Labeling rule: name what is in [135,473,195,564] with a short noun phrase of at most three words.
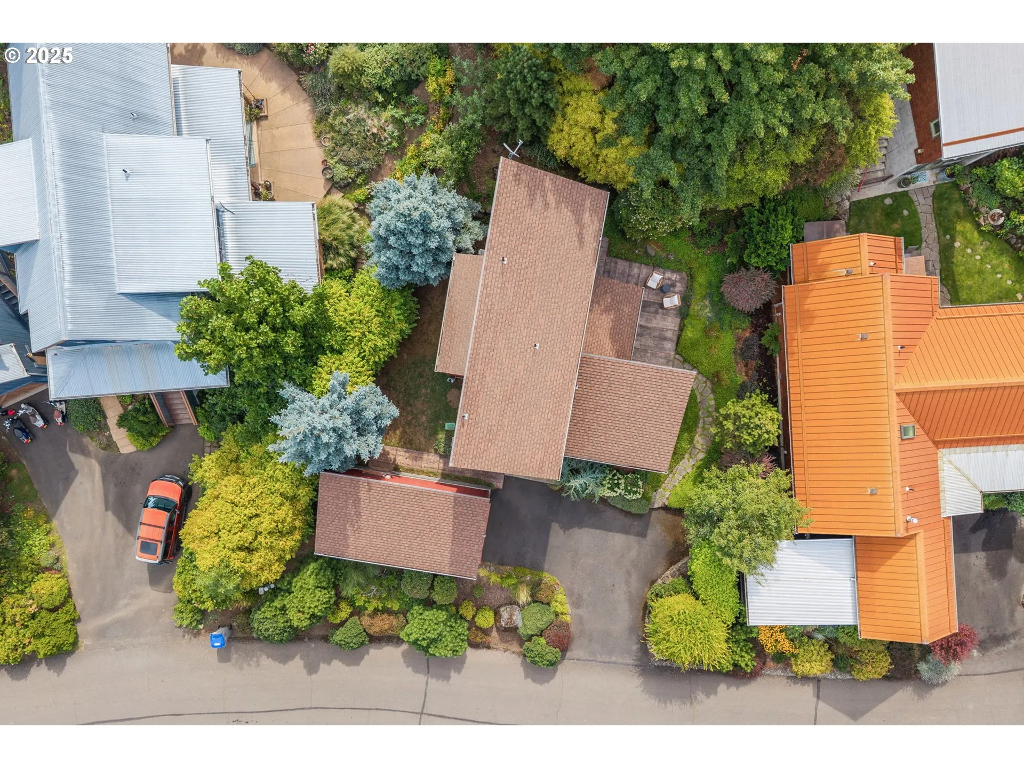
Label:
car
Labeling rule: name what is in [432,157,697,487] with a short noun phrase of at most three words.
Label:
house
